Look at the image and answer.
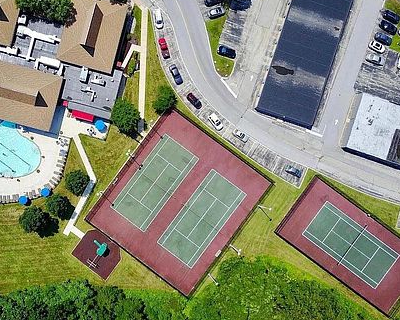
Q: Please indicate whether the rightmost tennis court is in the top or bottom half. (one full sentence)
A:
It is in the bottom half that the rightmost tennis court appears.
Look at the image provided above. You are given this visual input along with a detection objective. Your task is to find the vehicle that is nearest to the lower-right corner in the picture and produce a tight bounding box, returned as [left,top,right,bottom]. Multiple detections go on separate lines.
[283,164,302,177]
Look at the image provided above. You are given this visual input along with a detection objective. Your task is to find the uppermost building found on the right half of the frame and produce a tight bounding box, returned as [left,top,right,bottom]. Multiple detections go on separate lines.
[252,0,357,130]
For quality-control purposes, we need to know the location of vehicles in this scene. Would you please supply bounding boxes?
[377,21,397,34]
[283,164,302,177]
[372,34,392,46]
[206,114,223,131]
[186,92,201,110]
[152,9,164,30]
[217,47,236,58]
[381,11,400,24]
[363,53,382,64]
[231,129,249,145]
[204,0,223,7]
[169,65,181,84]
[158,38,169,60]
[367,43,385,54]
[206,7,226,19]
